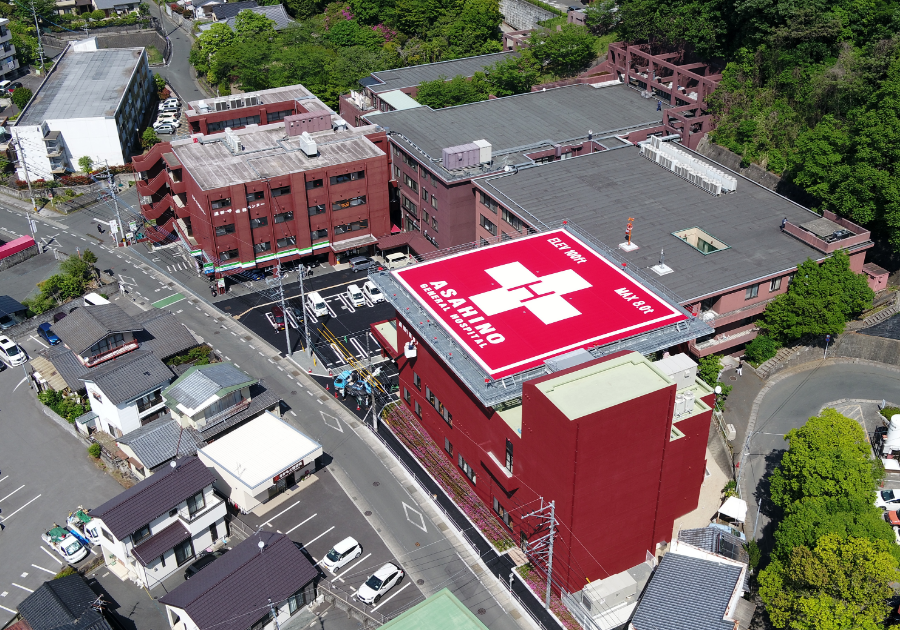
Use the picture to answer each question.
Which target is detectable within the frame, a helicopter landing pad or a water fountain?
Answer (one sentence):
Visible in the photo is a helicopter landing pad.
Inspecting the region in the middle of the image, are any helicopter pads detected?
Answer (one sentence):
Yes, a helicopter pad is visible in the middle of the image.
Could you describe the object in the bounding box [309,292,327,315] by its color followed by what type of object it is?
white car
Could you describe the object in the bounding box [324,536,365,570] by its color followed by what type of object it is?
white car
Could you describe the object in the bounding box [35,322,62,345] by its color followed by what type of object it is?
blue car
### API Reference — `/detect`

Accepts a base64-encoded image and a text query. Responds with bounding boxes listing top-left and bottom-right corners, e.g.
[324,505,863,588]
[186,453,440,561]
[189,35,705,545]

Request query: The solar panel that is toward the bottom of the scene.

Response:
[717,532,739,554]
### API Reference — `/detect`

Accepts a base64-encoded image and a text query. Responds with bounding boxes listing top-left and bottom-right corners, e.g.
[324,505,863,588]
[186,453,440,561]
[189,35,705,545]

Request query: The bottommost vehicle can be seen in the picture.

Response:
[359,562,404,603]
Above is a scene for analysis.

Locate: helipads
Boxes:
[364,213,722,424]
